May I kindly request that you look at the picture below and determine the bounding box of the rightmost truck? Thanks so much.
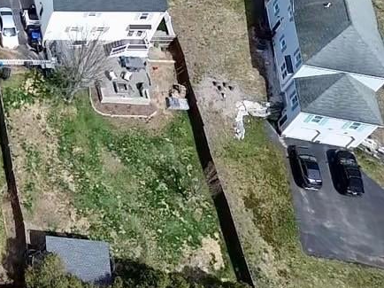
[326,143,369,203]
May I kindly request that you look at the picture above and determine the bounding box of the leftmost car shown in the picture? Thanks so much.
[0,8,21,50]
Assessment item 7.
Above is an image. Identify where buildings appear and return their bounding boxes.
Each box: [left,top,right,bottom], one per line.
[35,0,175,42]
[46,238,120,288]
[262,0,384,140]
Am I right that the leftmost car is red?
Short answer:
No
